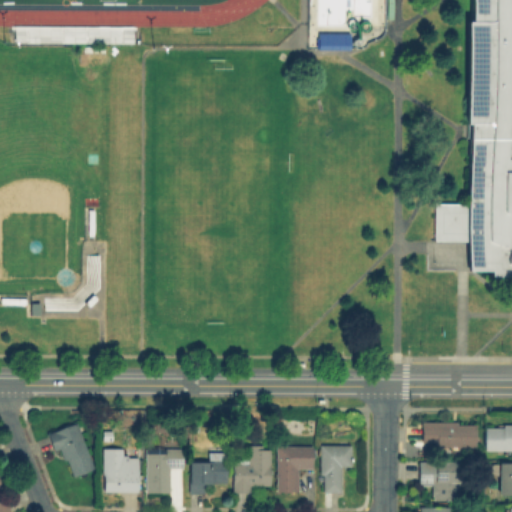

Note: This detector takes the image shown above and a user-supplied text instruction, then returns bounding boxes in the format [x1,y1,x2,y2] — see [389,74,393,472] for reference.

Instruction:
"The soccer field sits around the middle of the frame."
[146,51,290,352]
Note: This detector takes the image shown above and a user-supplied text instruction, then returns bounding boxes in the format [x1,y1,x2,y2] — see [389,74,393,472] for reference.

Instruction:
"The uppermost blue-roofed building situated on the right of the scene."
[317,32,352,50]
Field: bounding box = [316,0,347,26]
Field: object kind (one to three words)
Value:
swimming pool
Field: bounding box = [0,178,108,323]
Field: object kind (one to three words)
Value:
baseball field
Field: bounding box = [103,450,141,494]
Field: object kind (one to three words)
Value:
house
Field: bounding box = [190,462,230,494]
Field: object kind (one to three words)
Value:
house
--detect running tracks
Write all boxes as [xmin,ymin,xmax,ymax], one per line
[0,0,267,27]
